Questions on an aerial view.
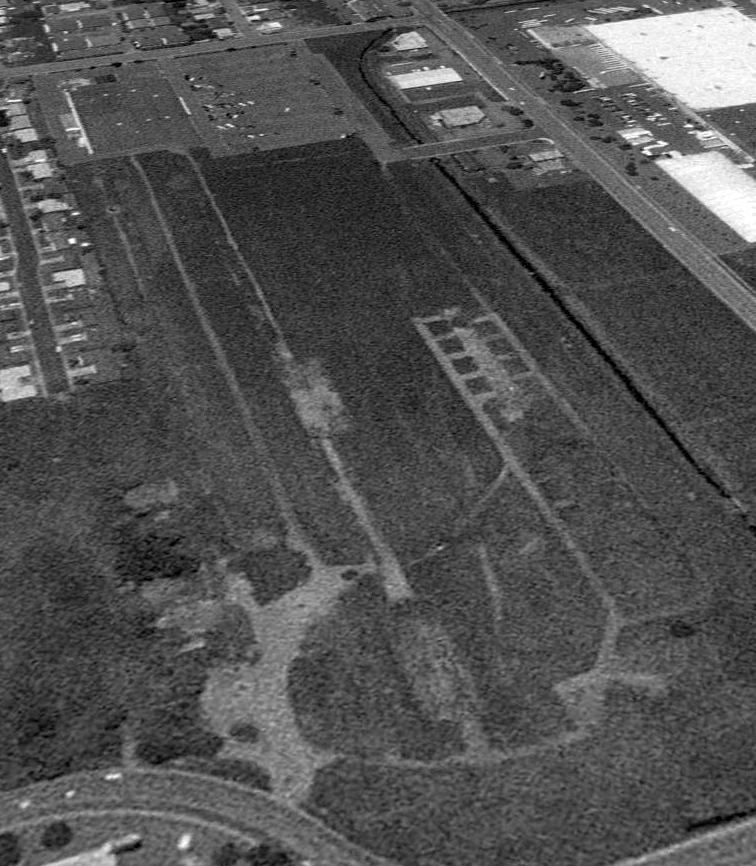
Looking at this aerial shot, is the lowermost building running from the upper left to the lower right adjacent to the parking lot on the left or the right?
right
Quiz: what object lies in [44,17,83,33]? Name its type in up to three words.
building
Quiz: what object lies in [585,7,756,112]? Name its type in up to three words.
building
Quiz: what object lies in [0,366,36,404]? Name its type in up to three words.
house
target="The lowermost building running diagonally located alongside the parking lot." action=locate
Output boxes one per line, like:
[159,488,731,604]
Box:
[654,151,756,245]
